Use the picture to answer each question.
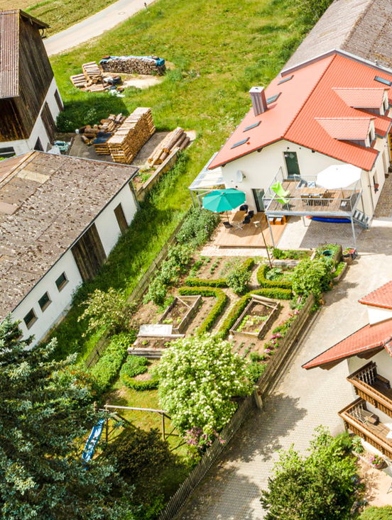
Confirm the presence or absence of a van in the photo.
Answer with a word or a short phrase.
No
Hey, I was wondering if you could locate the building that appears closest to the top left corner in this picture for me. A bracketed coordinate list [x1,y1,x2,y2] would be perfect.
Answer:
[0,9,63,152]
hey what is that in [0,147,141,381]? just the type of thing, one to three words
shed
